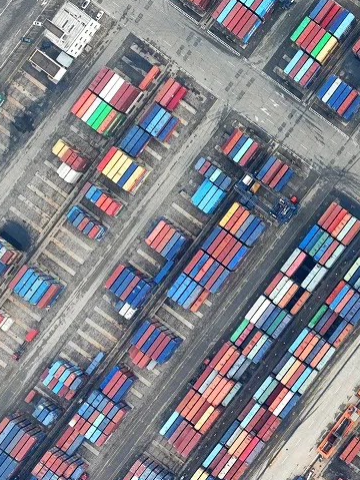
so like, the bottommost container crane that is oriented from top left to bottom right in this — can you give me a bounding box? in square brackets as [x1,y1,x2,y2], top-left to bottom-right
[227,171,293,223]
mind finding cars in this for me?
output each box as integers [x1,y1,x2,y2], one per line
[96,11,105,21]
[41,41,52,49]
[82,0,91,11]
[32,20,43,27]
[22,36,32,44]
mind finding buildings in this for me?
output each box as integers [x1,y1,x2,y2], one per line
[43,2,104,61]
[28,48,74,86]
